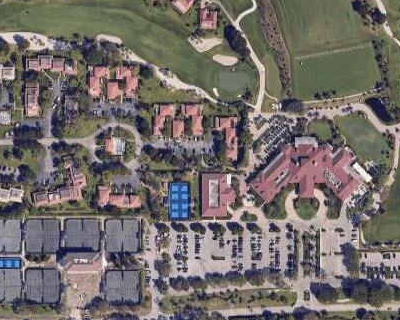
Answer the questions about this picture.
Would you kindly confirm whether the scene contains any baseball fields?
No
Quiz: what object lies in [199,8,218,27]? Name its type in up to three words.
house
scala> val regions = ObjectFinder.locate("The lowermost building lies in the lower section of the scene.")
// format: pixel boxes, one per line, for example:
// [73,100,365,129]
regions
[57,250,103,272]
